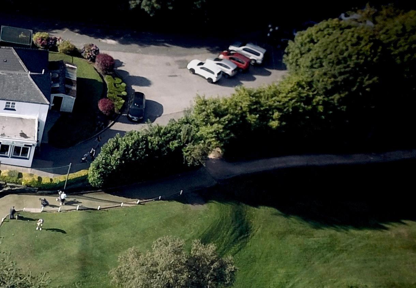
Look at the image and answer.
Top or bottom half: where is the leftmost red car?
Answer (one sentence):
It is in the top half that the leftmost red car appears.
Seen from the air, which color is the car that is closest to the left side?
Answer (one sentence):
The car that is closest to the left side is black.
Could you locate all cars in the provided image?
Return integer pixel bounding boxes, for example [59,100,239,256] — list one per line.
[126,89,147,122]
[204,57,242,79]
[215,51,254,73]
[184,61,227,86]
[226,43,270,66]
